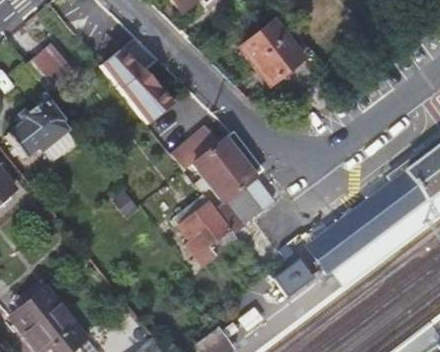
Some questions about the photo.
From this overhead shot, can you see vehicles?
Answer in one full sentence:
Yes, looking at the shot, I can spot a vehicle.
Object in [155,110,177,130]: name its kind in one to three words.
car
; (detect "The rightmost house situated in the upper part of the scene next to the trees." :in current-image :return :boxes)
[242,18,312,89]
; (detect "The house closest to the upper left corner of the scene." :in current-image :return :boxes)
[29,42,70,82]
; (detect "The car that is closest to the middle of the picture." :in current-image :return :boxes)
[166,125,187,146]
